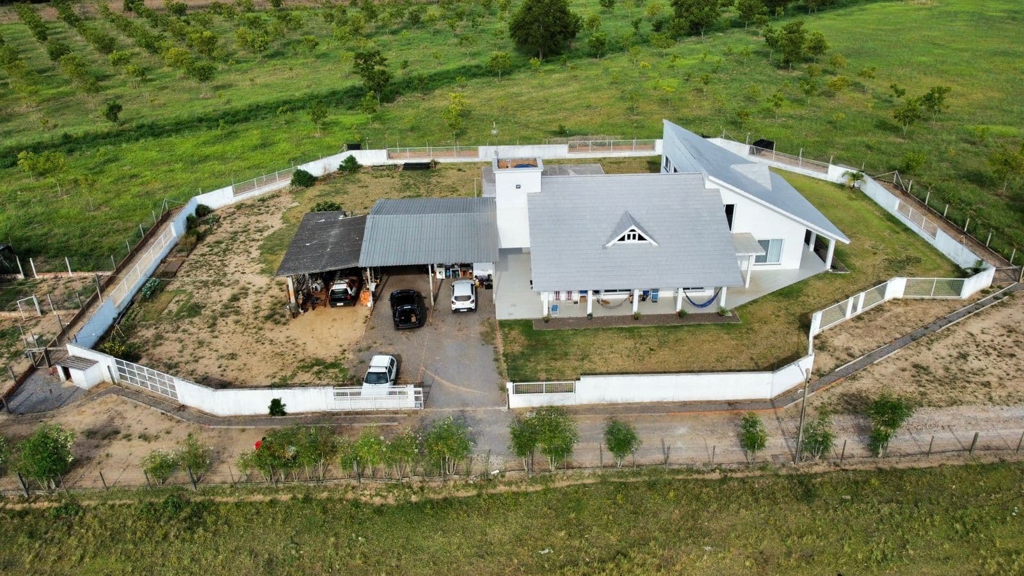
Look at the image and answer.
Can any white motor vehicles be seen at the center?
Yes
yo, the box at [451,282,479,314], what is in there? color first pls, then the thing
white car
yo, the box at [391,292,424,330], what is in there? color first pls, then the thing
black car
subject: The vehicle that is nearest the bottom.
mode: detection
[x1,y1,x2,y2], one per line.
[361,355,397,394]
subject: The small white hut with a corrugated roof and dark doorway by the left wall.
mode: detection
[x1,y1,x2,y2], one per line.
[48,346,109,389]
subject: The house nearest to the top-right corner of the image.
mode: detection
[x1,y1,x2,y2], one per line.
[500,117,854,313]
